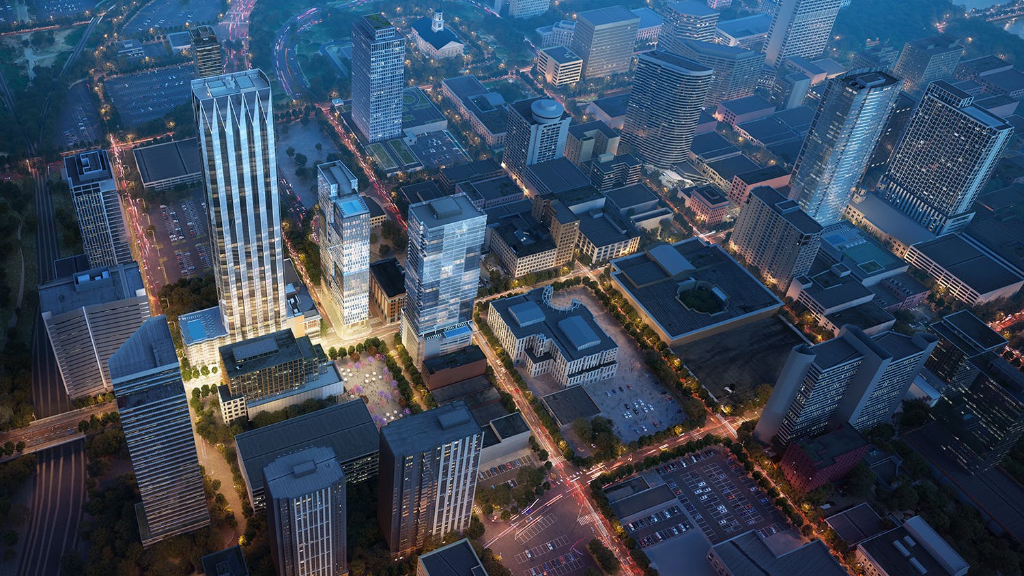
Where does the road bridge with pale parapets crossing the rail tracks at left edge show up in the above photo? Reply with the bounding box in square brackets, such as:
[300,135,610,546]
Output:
[0,389,121,455]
